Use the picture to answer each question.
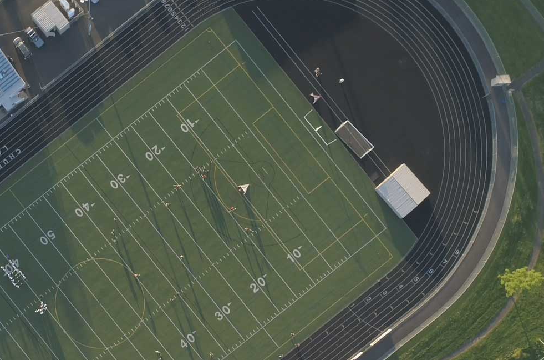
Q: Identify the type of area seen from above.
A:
sports ground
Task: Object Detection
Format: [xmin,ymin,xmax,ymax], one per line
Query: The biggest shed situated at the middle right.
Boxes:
[372,163,431,218]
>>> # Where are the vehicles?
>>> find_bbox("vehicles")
[24,24,45,51]
[14,36,32,60]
